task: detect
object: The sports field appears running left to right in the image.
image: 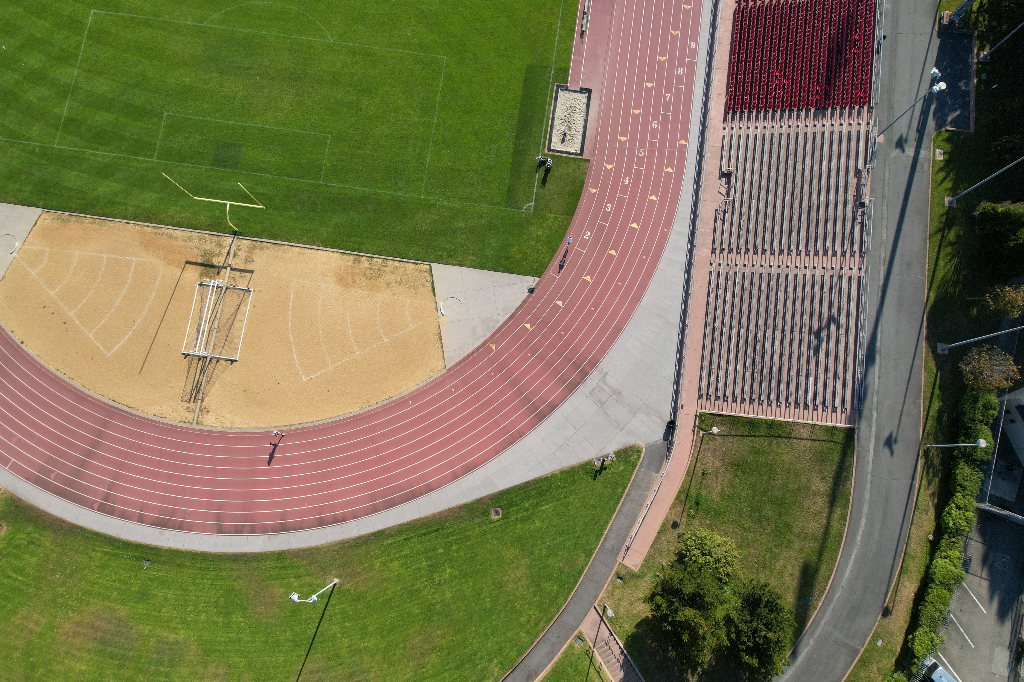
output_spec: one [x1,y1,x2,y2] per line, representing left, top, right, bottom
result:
[0,0,590,278]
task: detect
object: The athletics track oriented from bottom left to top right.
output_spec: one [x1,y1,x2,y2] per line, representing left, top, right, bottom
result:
[0,0,704,536]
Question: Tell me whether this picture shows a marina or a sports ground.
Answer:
sports ground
